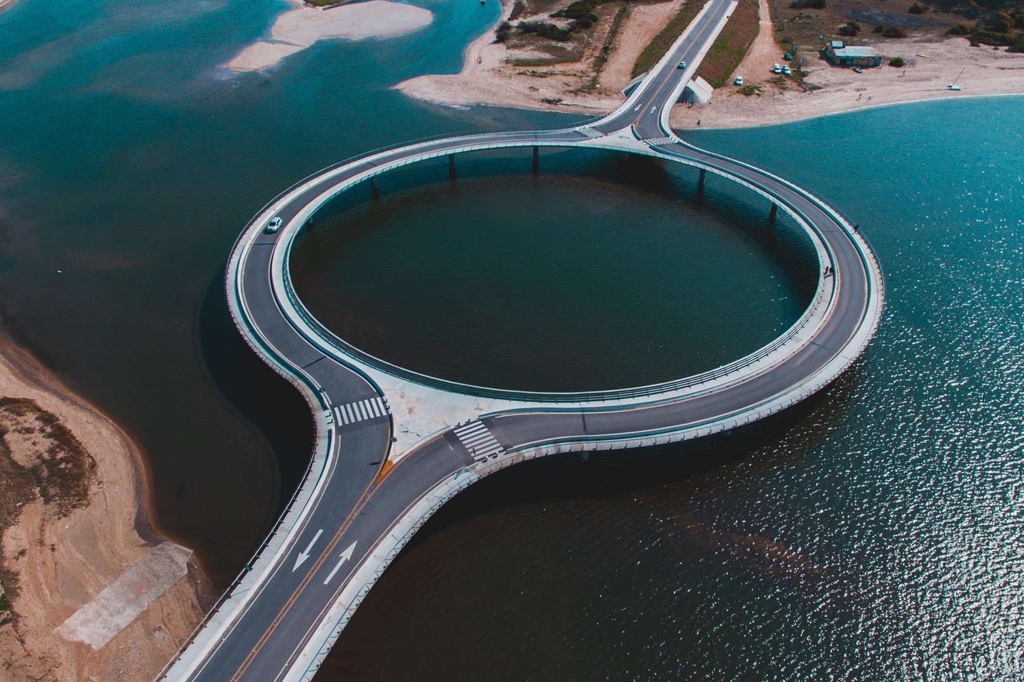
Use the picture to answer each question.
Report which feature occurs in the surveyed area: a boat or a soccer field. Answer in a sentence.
It is a boat that can be seen here.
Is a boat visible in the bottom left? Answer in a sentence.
No, no boat can be made out in the bottom left.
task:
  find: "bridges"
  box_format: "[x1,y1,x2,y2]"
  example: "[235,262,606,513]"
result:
[151,73,886,682]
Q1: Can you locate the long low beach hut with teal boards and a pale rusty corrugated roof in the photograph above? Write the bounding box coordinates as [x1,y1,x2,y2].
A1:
[825,40,889,67]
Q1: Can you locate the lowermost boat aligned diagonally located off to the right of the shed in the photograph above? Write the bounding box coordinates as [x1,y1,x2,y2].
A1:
[940,56,975,90]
